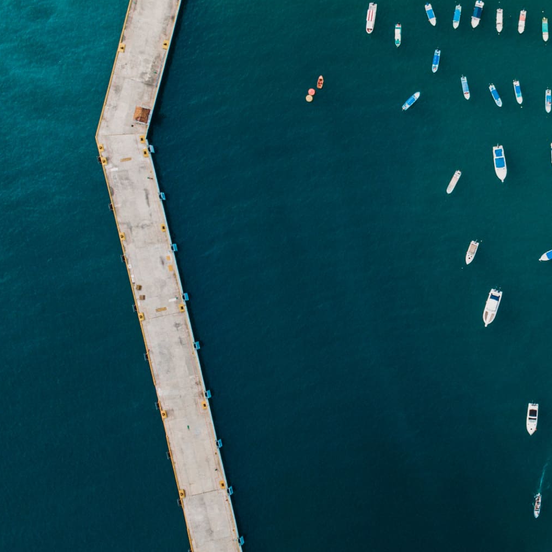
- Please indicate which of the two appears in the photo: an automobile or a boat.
boat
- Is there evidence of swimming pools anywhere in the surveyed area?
No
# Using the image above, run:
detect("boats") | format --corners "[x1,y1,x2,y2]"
[527,399,538,436]
[542,14,549,43]
[465,240,479,265]
[432,46,440,74]
[490,82,502,108]
[493,143,507,183]
[461,73,470,101]
[496,5,503,34]
[514,78,522,105]
[452,2,461,31]
[545,85,551,114]
[484,286,501,327]
[402,92,421,112]
[447,168,461,195]
[533,492,542,518]
[318,74,323,89]
[518,8,526,35]
[471,0,483,30]
[539,250,552,261]
[366,0,377,35]
[394,22,402,48]
[425,2,436,27]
